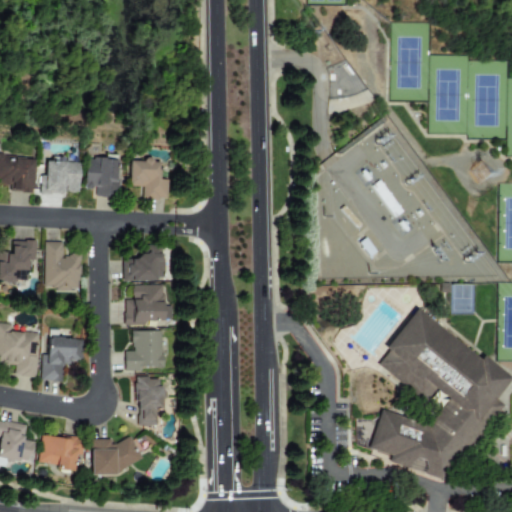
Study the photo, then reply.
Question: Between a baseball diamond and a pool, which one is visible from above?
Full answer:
I can see a pool in this picture.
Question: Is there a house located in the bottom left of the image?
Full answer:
Yes, there is a house in the bottom left of the image.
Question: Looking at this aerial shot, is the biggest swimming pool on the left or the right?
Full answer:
It is on the right.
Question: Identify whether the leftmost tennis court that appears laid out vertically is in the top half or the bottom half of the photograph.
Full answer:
The leftmost tennis court that appears laid out vertically sits in the top half of the picture.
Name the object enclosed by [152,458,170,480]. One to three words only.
swimming pool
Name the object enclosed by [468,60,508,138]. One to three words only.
tennis court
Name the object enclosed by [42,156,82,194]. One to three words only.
house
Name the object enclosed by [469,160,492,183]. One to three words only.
gazebo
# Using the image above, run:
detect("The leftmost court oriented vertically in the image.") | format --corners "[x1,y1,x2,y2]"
[392,22,430,100]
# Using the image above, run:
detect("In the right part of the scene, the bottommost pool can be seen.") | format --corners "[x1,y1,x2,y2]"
[353,301,401,355]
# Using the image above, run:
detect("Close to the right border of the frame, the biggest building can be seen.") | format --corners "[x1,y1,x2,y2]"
[364,306,512,484]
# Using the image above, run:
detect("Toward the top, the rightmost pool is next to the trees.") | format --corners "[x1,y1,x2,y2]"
[148,150,170,162]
